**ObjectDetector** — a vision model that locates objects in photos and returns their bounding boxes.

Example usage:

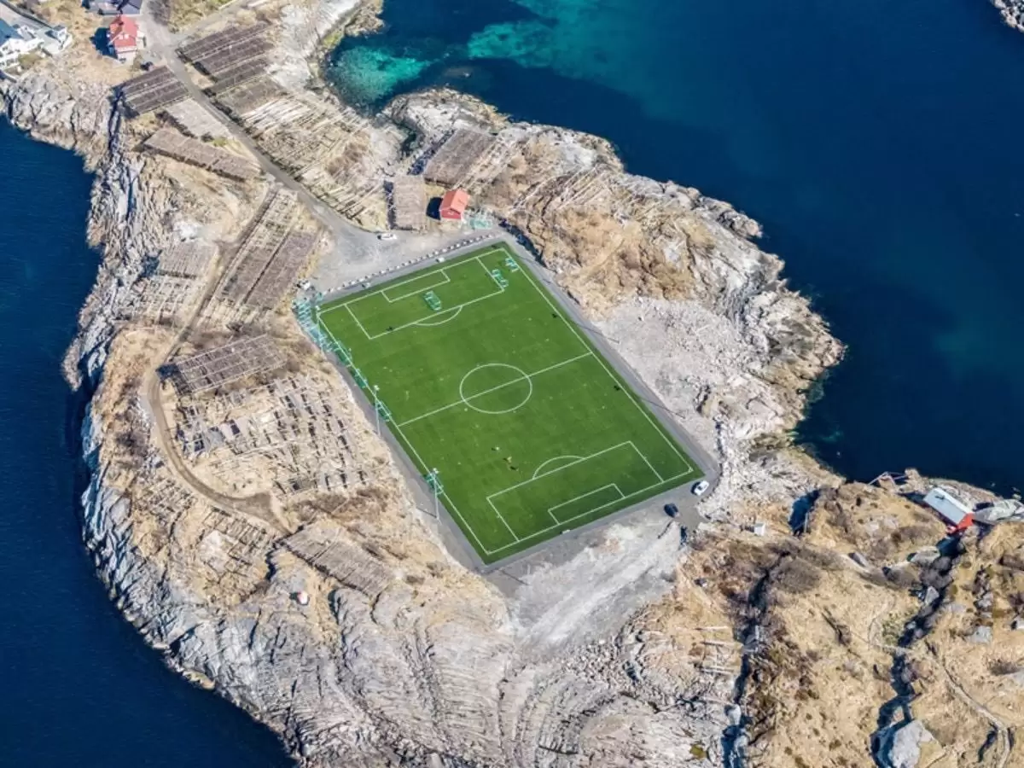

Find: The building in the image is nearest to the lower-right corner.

[917,482,976,545]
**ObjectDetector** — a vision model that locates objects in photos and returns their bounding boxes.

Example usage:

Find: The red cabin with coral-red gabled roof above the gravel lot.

[441,189,466,219]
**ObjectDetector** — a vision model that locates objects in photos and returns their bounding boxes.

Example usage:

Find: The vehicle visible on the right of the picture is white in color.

[693,481,707,495]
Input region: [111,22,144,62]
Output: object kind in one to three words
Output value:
house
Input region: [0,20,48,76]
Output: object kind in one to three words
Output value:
house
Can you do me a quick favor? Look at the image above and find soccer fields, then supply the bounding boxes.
[309,240,705,564]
